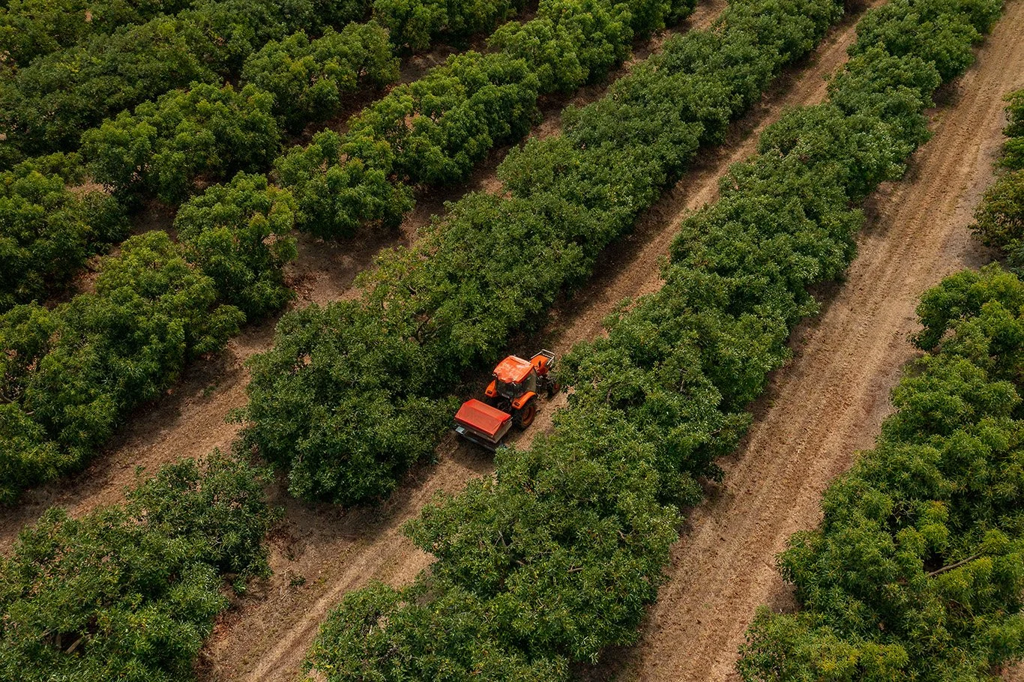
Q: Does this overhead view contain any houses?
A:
No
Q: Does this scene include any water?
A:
No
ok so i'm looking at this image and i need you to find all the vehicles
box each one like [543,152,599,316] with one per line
[481,348,556,432]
